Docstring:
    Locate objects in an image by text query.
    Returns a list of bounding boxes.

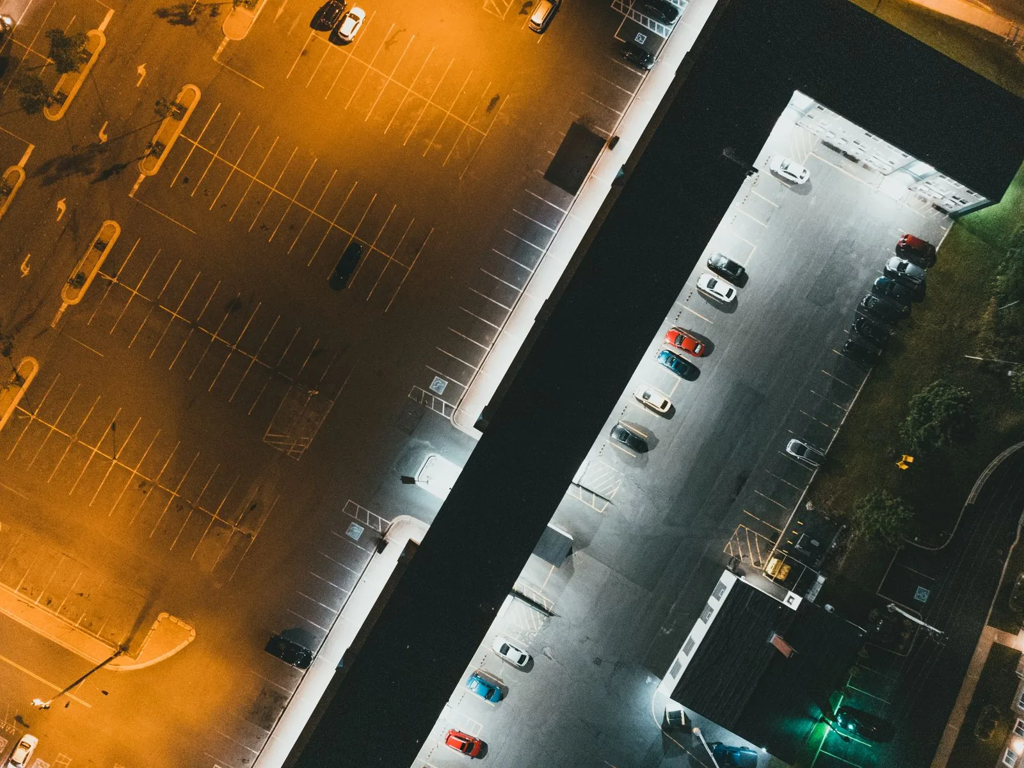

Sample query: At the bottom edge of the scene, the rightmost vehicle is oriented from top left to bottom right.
[838,705,887,744]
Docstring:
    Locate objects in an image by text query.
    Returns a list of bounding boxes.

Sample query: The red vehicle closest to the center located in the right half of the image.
[664,327,706,359]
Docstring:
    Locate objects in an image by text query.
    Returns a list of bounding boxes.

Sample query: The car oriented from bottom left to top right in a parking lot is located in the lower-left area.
[4,732,37,768]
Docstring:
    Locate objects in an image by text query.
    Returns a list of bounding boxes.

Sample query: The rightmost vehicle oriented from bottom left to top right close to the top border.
[529,0,562,35]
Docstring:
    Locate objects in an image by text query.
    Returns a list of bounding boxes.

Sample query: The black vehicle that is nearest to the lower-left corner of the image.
[264,631,315,670]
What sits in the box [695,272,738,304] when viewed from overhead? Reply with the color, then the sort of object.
white car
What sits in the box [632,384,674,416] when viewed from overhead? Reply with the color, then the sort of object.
white car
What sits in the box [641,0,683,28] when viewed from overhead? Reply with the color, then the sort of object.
black car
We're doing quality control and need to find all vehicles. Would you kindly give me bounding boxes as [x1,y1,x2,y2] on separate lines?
[329,241,366,288]
[786,436,828,468]
[0,56,9,80]
[315,0,348,31]
[894,232,938,265]
[657,348,699,380]
[491,636,532,669]
[4,732,37,768]
[769,153,812,185]
[529,0,562,35]
[711,741,762,768]
[705,251,748,283]
[641,0,683,28]
[264,631,315,670]
[664,327,706,359]
[335,4,366,44]
[616,39,658,73]
[608,422,650,454]
[695,272,738,304]
[466,671,504,701]
[873,275,917,307]
[838,705,887,744]
[632,384,674,416]
[884,254,928,286]
[444,726,484,759]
